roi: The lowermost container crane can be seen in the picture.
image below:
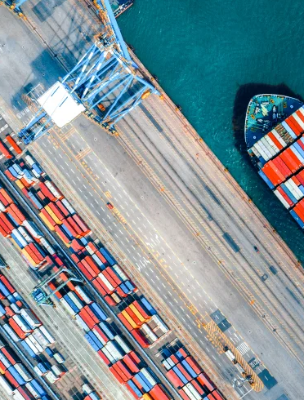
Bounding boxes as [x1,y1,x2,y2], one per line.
[25,268,86,311]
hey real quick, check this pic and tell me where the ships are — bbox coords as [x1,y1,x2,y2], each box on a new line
[244,93,304,229]
[104,0,134,18]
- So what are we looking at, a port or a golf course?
port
